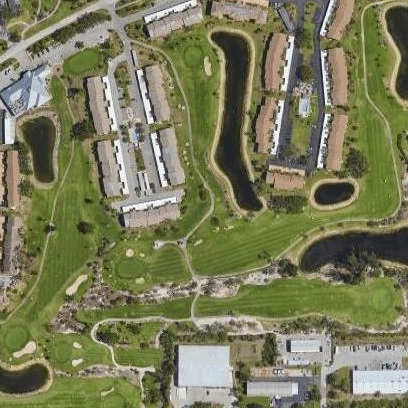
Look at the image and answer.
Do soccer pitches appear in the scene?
No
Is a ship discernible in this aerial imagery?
No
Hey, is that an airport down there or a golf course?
golf course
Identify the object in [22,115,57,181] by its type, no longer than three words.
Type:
pond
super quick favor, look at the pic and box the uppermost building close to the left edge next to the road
[0,63,54,115]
